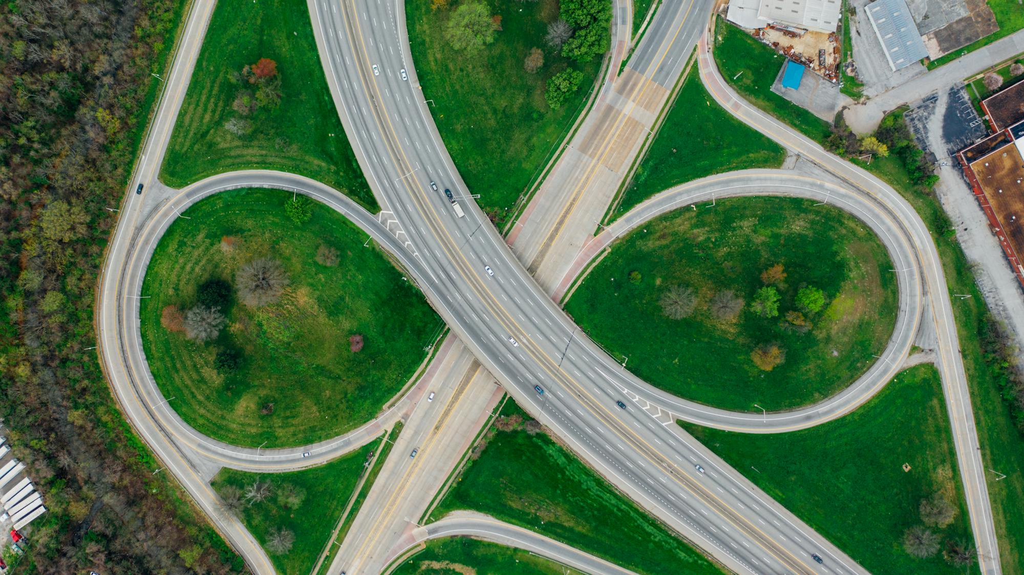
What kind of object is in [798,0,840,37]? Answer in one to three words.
building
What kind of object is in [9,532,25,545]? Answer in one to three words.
vehicle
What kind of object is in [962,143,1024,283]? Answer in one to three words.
building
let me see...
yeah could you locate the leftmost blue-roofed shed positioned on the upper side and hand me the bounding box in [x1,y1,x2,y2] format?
[779,60,805,92]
